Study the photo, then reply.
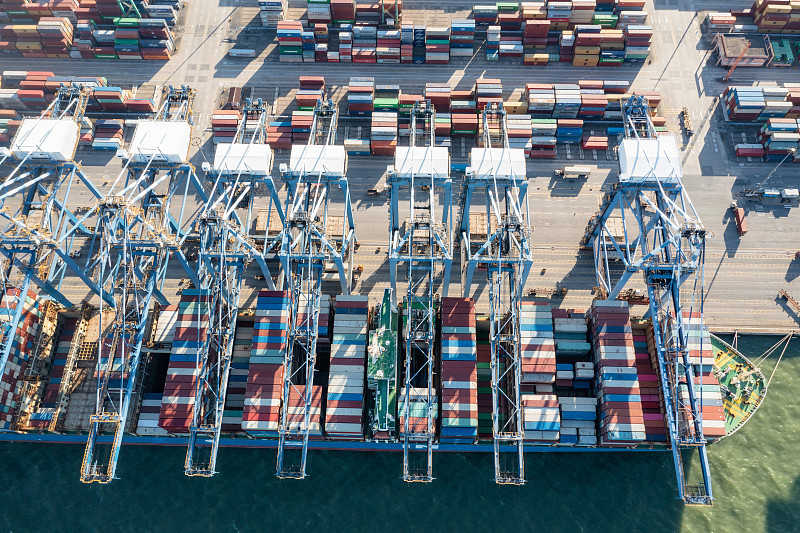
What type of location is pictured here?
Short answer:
port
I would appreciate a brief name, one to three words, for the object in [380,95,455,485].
container crane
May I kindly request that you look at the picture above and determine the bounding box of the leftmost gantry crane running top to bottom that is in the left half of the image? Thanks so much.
[0,78,136,403]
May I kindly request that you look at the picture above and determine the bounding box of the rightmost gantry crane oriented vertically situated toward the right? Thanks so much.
[578,103,720,505]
